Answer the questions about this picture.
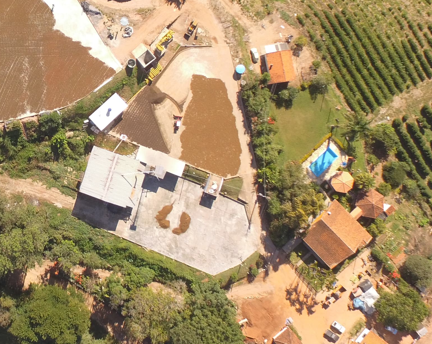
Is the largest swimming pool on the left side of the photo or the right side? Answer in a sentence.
The largest swimming pool is on the right side of the image.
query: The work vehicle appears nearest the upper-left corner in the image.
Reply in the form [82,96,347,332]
[184,21,199,38]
